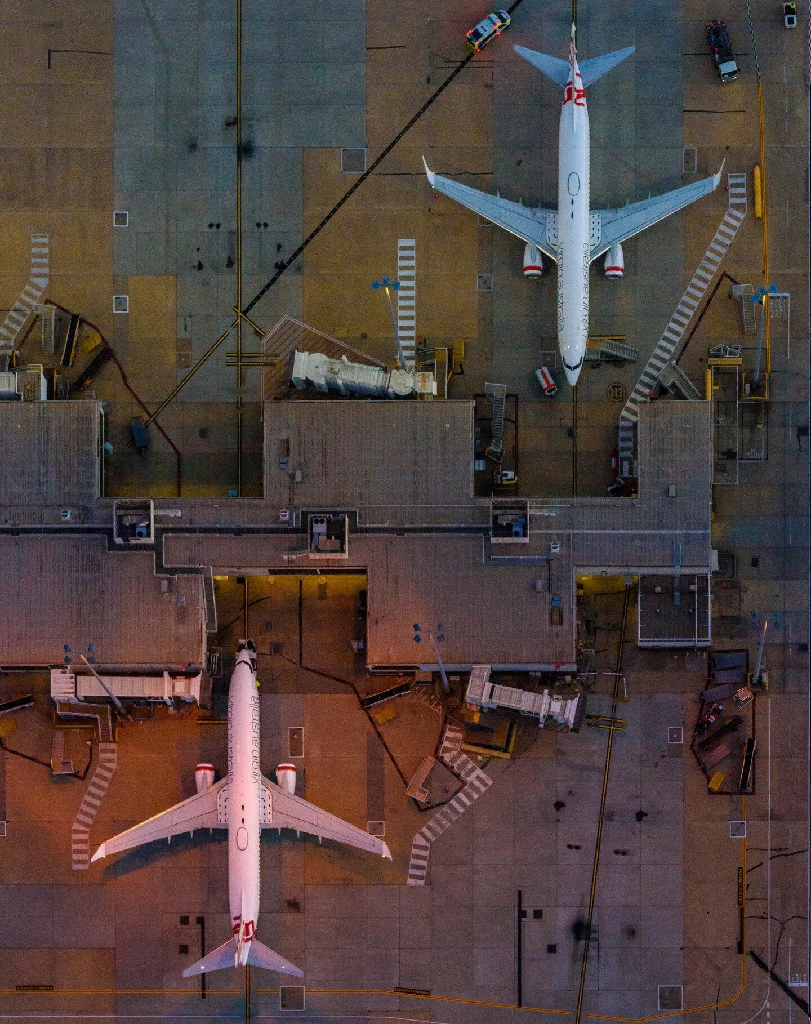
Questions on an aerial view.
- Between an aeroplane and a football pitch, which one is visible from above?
aeroplane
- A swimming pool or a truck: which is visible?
truck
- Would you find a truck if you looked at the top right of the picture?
Yes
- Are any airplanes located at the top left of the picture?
No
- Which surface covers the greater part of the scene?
paved ground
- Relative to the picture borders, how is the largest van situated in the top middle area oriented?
diagonally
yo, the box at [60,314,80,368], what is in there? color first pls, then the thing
black work vehicle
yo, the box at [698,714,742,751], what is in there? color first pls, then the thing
black work vehicle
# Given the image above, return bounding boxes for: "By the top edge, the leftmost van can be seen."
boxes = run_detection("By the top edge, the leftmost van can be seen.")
[466,11,512,56]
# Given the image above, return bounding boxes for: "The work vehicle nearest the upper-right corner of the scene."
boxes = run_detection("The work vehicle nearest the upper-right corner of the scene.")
[784,2,797,29]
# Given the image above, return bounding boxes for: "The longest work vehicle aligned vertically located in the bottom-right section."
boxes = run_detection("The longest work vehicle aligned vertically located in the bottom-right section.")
[736,738,754,789]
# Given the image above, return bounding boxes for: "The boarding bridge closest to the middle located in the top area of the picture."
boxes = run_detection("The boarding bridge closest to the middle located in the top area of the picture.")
[287,351,437,402]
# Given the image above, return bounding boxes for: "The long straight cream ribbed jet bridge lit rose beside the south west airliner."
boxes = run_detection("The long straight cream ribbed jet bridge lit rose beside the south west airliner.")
[51,666,214,711]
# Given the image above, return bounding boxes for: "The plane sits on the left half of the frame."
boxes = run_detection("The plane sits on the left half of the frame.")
[88,648,390,976]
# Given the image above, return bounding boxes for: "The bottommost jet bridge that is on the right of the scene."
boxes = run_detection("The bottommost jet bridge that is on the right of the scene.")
[466,665,588,731]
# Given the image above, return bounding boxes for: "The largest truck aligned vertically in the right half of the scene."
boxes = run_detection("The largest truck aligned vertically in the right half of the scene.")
[705,19,737,82]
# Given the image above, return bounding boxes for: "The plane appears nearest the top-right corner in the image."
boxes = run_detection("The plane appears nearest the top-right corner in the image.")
[422,24,724,386]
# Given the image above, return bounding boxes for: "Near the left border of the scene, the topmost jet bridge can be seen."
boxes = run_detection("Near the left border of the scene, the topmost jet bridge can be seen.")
[0,372,50,402]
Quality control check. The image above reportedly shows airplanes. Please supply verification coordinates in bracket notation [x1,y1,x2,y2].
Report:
[422,24,724,386]
[88,648,390,976]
